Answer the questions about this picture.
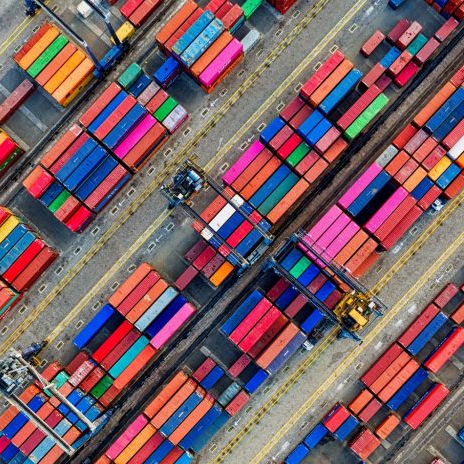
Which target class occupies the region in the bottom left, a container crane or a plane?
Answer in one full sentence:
There is a container crane in the bottom left.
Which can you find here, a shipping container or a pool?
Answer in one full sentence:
I can see a shipping container in this picture.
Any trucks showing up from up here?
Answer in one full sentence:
Yes, there is a truck in the image.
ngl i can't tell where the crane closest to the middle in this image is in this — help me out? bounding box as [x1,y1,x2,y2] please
[164,157,280,275]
